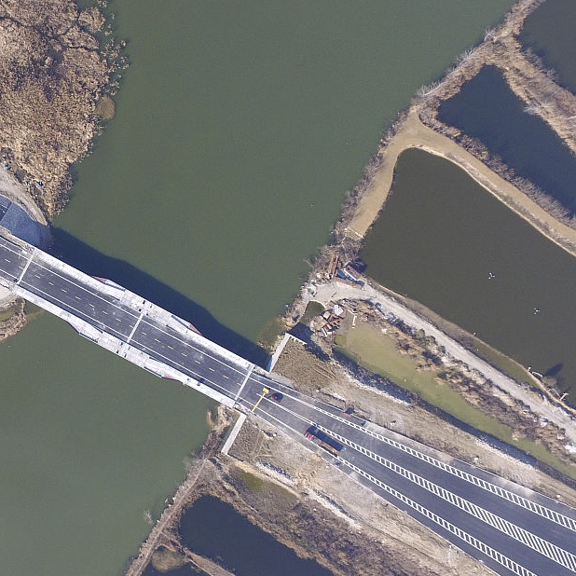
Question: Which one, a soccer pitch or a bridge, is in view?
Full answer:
Looking from above, you can make out a bridge.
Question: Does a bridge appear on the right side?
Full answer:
No, there is no bridge on the right side.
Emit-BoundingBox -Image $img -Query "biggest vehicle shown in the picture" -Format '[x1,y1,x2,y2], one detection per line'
[306,431,344,455]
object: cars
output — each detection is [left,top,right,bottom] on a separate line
[269,391,282,401]
[342,411,353,419]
